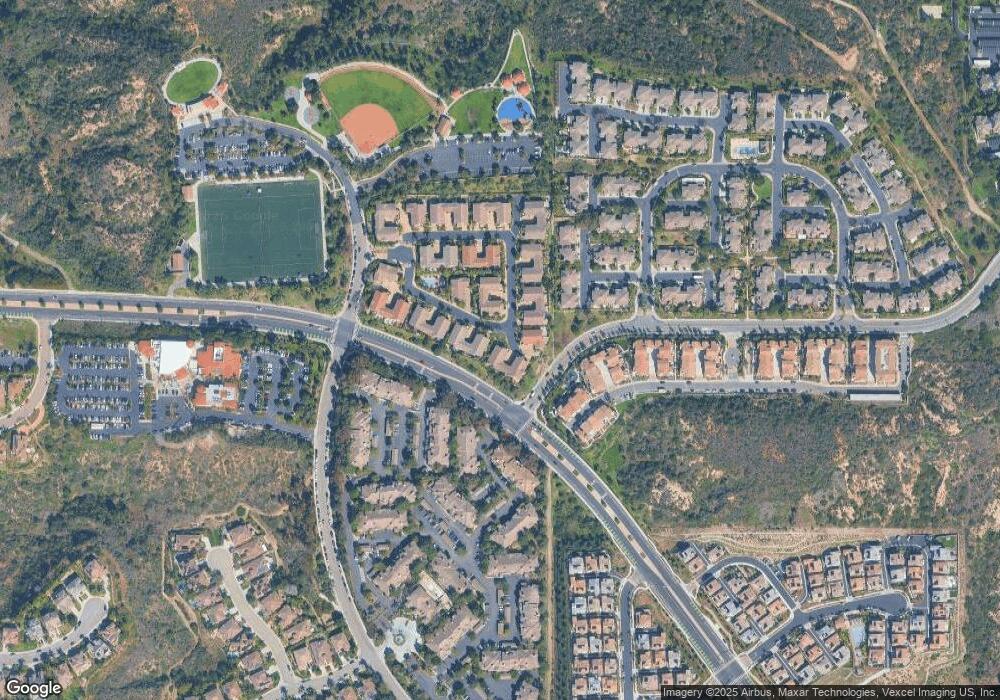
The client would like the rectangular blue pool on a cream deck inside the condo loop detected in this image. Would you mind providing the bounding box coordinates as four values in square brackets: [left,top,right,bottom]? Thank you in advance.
[730,138,760,158]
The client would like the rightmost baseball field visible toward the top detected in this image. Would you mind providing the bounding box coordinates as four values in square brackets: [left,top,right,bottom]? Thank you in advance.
[319,62,447,158]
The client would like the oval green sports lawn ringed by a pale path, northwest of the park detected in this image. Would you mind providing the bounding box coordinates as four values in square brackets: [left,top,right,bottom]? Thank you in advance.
[162,57,223,108]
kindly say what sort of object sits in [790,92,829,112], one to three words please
building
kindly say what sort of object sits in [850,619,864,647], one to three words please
swimming pool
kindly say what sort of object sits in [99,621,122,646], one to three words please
house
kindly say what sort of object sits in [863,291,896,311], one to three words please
building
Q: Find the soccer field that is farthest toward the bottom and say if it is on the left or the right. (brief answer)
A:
left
